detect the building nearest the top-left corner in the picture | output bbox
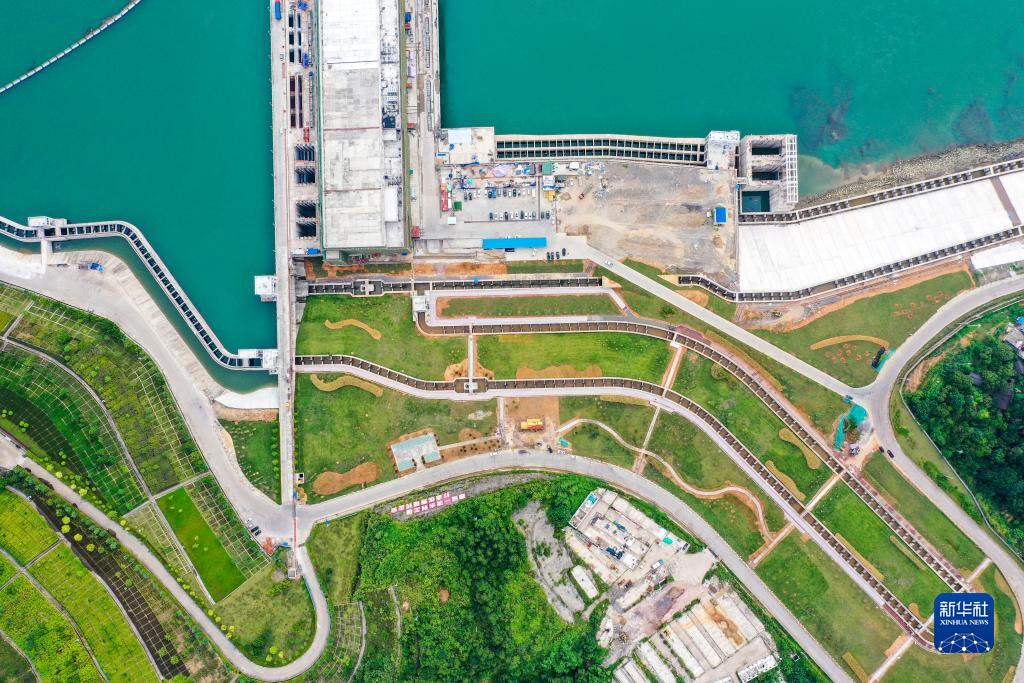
[27,216,76,243]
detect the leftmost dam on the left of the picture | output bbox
[270,0,324,505]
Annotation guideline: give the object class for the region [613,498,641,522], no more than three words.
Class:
shed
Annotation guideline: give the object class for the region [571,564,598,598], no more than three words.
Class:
house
